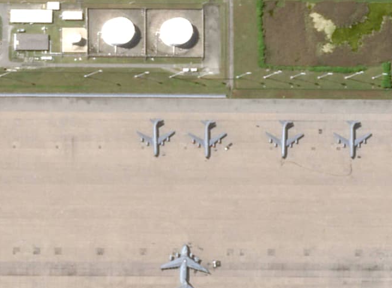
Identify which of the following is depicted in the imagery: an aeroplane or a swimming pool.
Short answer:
aeroplane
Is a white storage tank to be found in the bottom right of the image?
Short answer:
No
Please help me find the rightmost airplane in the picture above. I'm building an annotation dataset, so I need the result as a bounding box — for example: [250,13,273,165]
[333,121,372,159]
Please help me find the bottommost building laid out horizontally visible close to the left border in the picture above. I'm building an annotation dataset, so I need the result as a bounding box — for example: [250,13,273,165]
[15,35,49,51]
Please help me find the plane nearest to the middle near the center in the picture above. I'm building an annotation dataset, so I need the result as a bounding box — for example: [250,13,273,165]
[188,121,227,160]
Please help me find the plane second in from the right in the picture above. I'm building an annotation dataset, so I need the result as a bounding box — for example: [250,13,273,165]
[265,121,304,159]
